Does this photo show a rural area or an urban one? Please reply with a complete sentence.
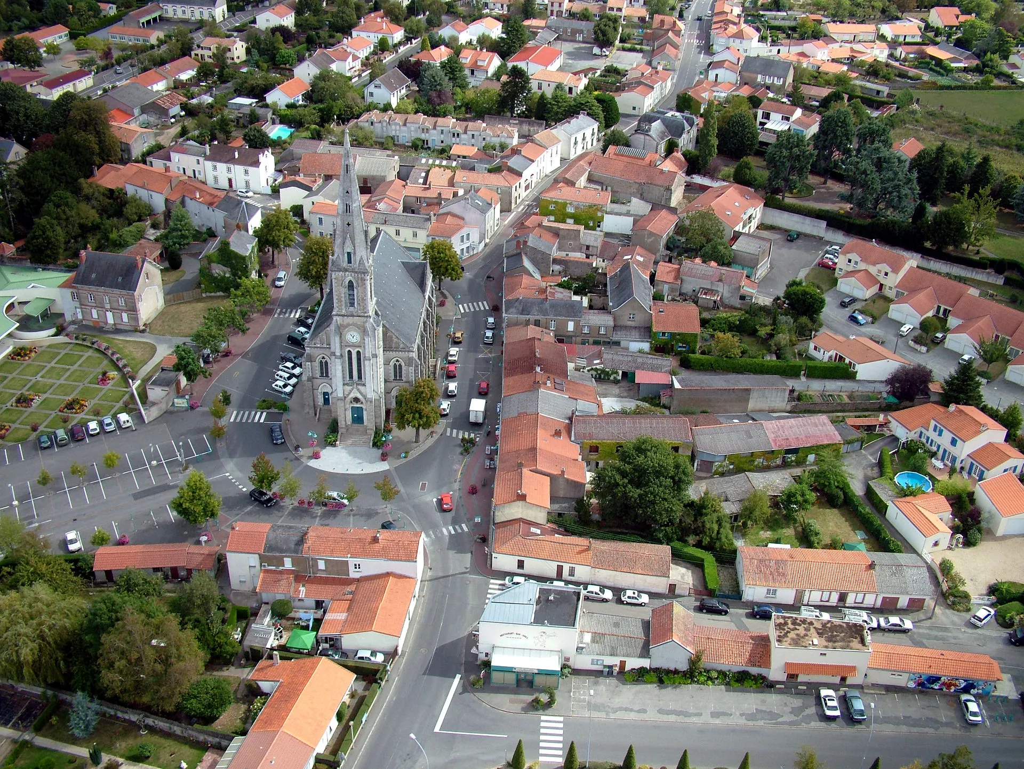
It looks urban.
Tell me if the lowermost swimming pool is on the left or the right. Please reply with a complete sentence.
The lowermost swimming pool sits on the right side.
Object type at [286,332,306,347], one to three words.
car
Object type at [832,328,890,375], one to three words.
house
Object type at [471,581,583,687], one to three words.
building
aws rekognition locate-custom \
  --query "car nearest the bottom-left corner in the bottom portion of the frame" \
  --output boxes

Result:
[65,530,81,548]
